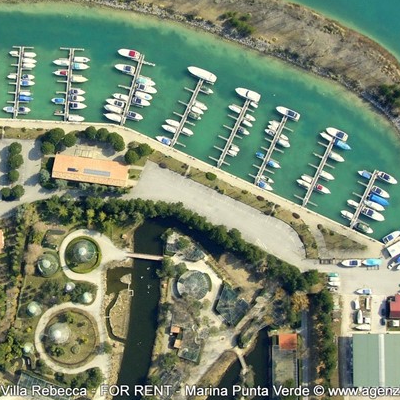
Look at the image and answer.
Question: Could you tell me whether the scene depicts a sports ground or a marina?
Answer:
marina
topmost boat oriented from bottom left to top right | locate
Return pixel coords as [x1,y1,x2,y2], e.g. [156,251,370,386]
[382,232,400,245]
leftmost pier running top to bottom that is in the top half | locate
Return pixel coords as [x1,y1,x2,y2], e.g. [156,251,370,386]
[8,46,34,119]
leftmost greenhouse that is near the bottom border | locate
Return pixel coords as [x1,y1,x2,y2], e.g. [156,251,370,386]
[18,372,72,400]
